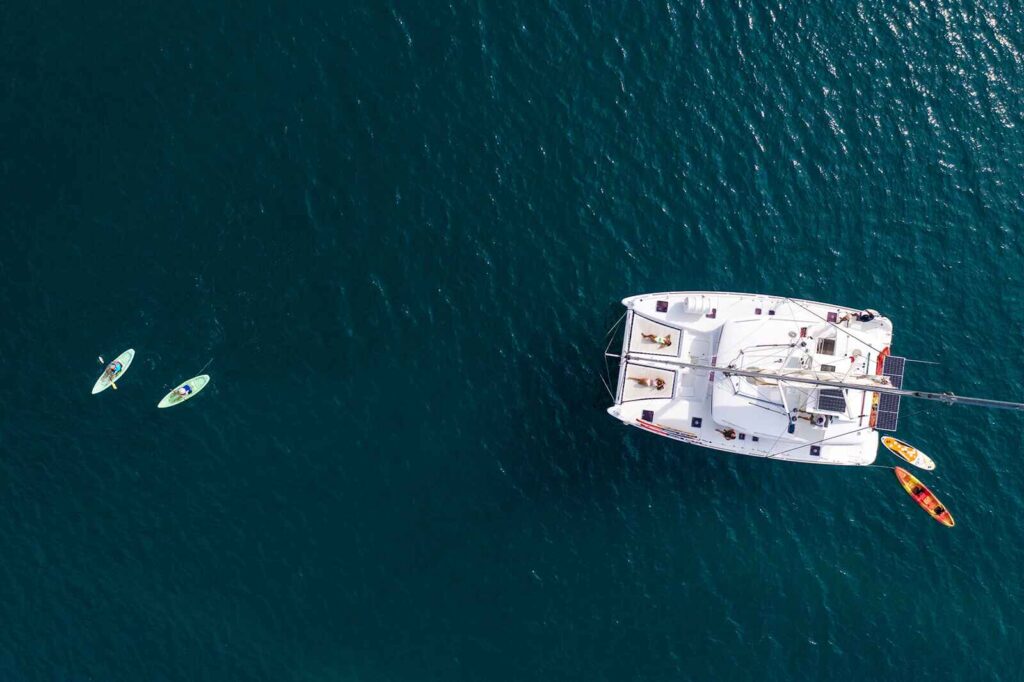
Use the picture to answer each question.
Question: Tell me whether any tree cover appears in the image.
No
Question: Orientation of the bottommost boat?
diagonally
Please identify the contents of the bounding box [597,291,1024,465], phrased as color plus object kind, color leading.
white boat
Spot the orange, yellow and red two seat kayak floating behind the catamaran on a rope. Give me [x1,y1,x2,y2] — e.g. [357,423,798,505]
[893,468,956,526]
